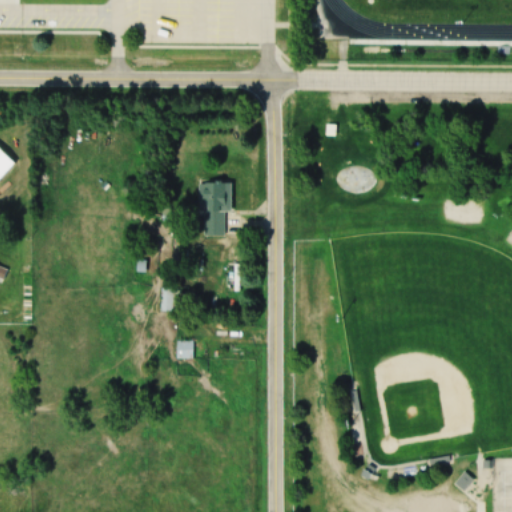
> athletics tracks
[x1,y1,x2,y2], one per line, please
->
[322,0,512,40]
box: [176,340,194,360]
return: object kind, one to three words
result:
shed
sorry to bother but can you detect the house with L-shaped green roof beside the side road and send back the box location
[199,179,232,234]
